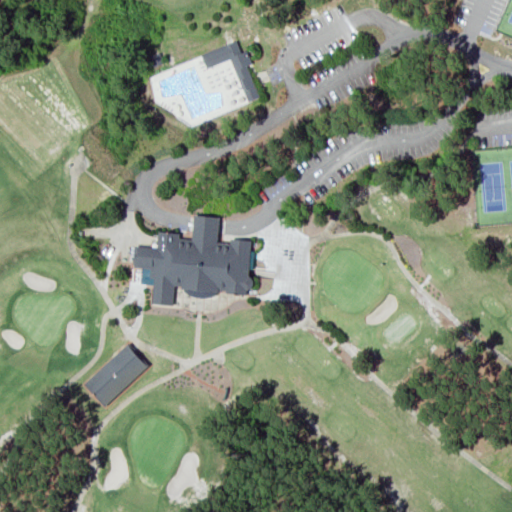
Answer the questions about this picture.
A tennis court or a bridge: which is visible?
tennis court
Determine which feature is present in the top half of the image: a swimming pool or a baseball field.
swimming pool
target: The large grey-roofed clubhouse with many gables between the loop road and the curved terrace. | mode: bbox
[134,216,257,306]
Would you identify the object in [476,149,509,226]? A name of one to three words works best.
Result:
tennis court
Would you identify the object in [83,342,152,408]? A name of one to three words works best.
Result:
barn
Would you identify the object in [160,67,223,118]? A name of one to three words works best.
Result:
swimming pool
